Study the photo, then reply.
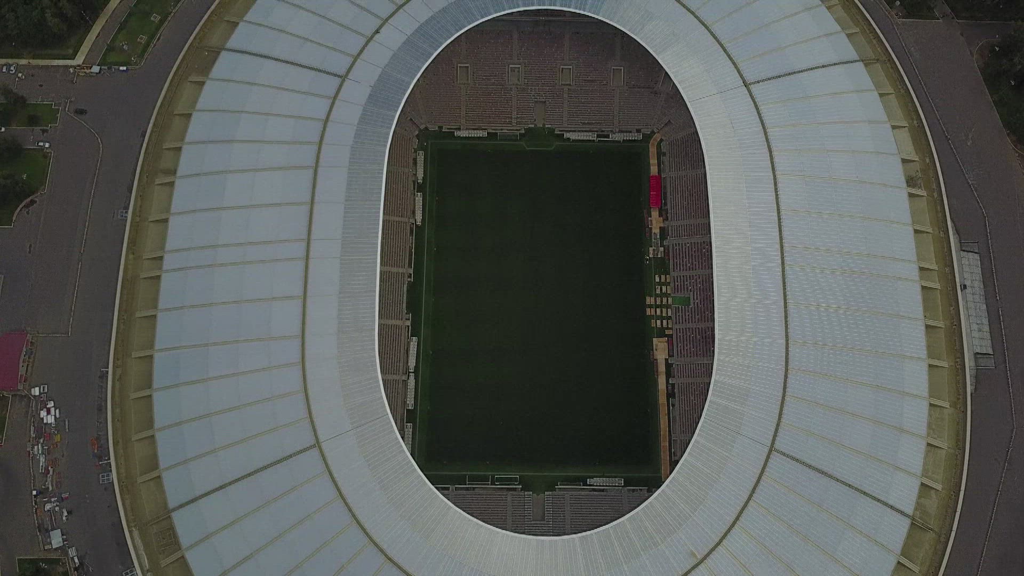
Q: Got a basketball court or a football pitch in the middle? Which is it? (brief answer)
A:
football pitch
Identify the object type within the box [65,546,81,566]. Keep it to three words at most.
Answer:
vehicle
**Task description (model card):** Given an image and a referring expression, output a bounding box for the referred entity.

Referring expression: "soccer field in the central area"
[400,119,675,494]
